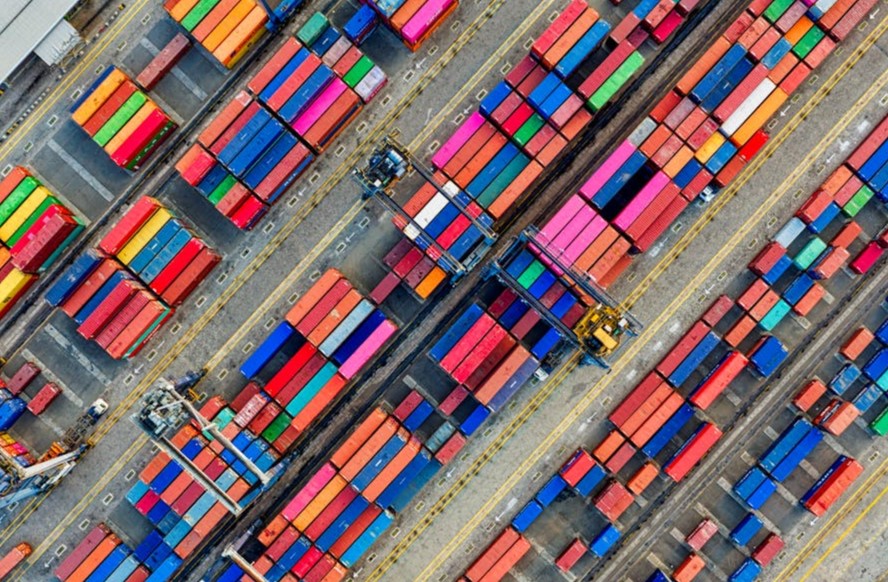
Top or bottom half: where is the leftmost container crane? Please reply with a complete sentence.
The bottom half of the photo is where the leftmost container crane is.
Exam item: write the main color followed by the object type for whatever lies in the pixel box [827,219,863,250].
red shipping container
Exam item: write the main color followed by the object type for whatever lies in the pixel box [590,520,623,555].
blue shipping container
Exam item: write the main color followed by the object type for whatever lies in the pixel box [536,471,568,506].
blue shipping container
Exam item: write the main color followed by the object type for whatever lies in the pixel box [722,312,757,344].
red shipping container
